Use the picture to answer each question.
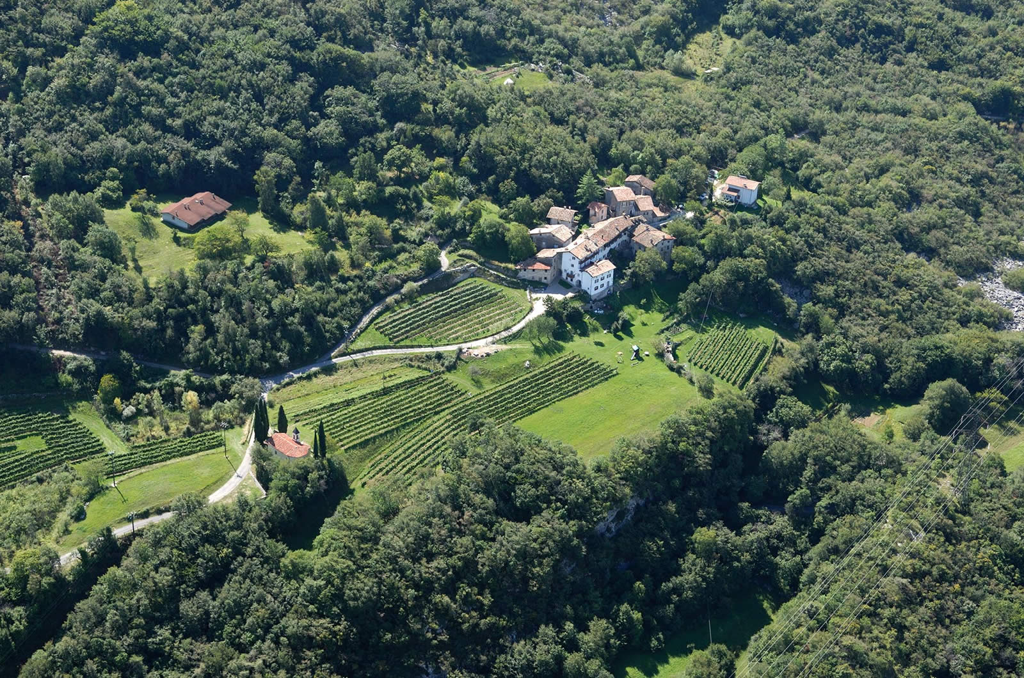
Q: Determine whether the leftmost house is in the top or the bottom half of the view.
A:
top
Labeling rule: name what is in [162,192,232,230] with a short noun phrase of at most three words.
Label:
house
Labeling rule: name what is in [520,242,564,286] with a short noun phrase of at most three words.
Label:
house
